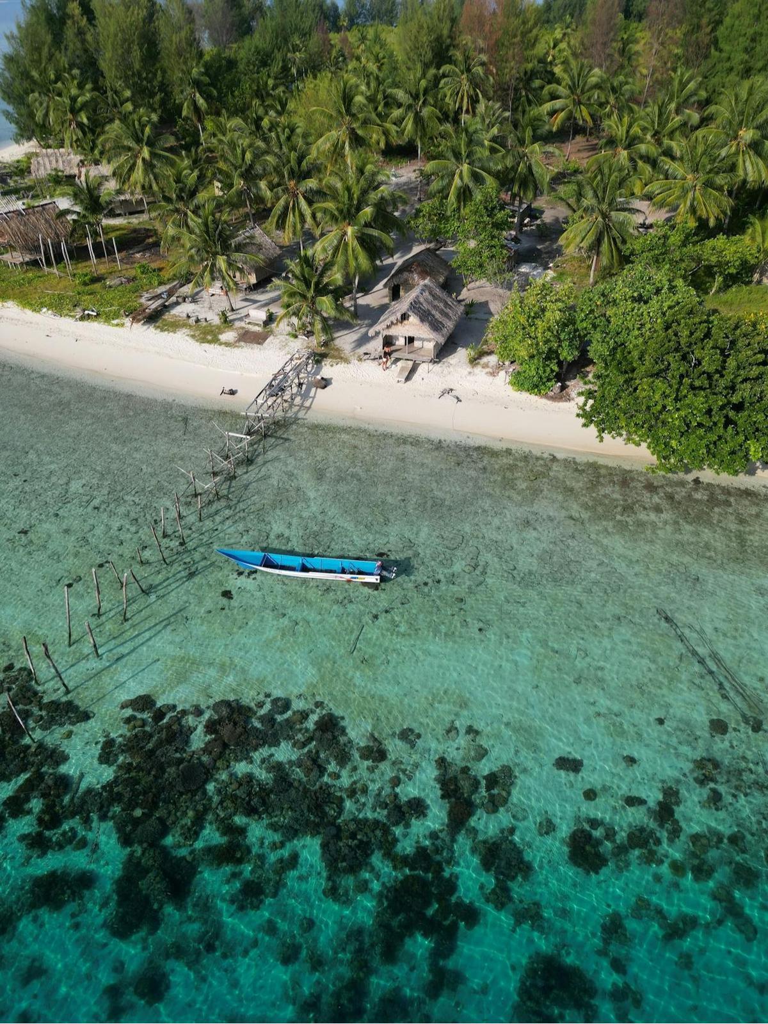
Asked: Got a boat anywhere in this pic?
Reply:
Yes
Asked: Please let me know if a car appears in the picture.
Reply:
No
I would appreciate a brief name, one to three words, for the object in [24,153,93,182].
shed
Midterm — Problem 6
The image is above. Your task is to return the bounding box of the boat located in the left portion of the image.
[216,549,397,586]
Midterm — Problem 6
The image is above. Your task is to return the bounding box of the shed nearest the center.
[369,279,466,375]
